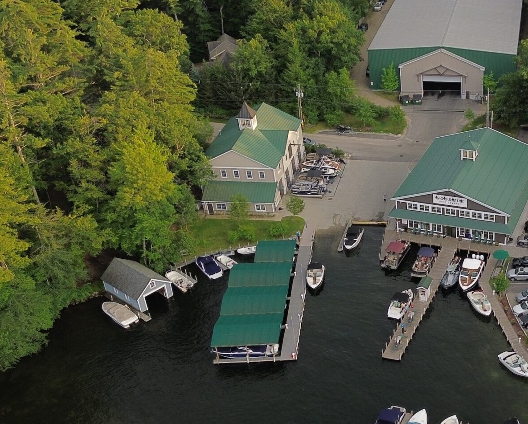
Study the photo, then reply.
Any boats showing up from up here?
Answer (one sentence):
Yes, the frame does contain a boat.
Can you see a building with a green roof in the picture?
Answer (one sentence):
Yes, the picture does show a building with a green roof.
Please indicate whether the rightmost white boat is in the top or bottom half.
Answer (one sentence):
The rightmost white boat sits in the bottom half of the picture.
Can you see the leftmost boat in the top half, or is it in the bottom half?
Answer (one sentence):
It is in the bottom half that the leftmost boat appears.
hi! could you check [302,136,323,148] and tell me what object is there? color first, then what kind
gray vehicle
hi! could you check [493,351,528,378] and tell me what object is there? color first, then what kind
white boat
